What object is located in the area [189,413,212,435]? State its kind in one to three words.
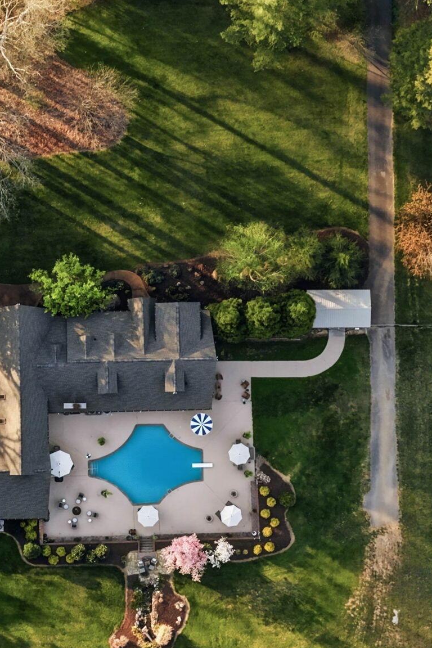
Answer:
umbrella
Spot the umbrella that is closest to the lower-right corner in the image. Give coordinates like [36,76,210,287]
[219,504,241,525]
